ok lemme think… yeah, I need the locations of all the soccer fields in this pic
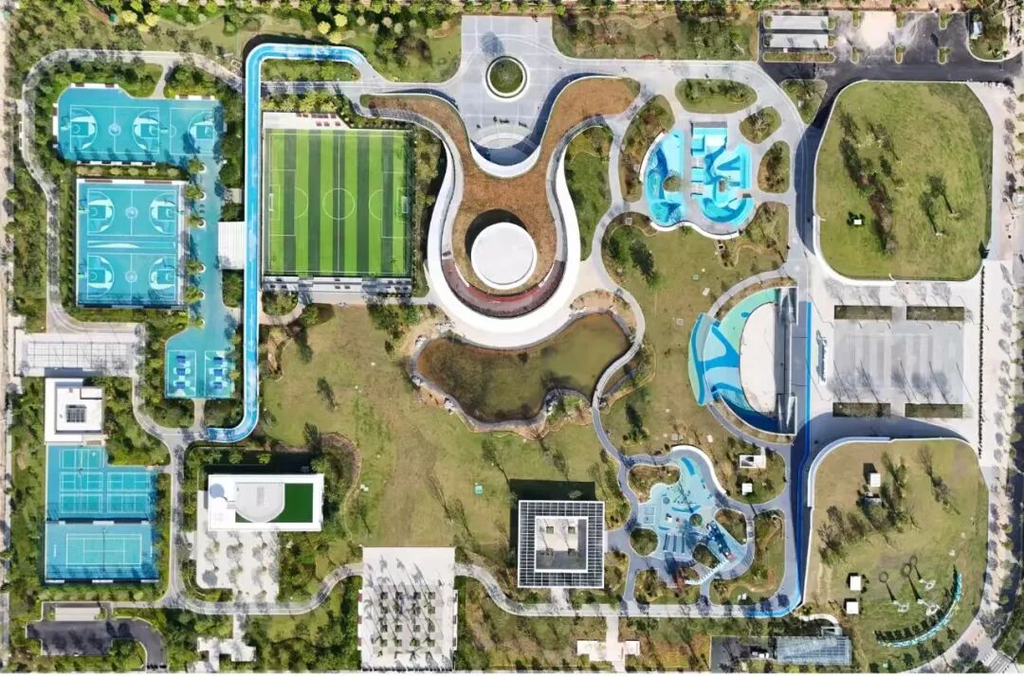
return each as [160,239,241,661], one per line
[264,129,409,275]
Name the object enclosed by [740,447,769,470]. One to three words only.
shed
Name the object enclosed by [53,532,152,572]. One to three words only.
tennis court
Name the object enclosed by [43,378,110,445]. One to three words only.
building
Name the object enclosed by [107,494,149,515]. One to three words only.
sports court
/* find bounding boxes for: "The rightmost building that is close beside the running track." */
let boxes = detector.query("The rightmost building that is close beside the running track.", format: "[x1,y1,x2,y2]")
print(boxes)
[362,74,642,336]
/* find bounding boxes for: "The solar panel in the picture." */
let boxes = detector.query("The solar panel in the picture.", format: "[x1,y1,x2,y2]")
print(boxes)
[520,503,603,587]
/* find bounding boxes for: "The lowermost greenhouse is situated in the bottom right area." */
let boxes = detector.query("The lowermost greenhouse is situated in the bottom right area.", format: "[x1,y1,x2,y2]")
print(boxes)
[771,622,852,666]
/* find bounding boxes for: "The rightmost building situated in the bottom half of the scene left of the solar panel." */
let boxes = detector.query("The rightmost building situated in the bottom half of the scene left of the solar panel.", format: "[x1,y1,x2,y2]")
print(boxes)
[208,472,328,531]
